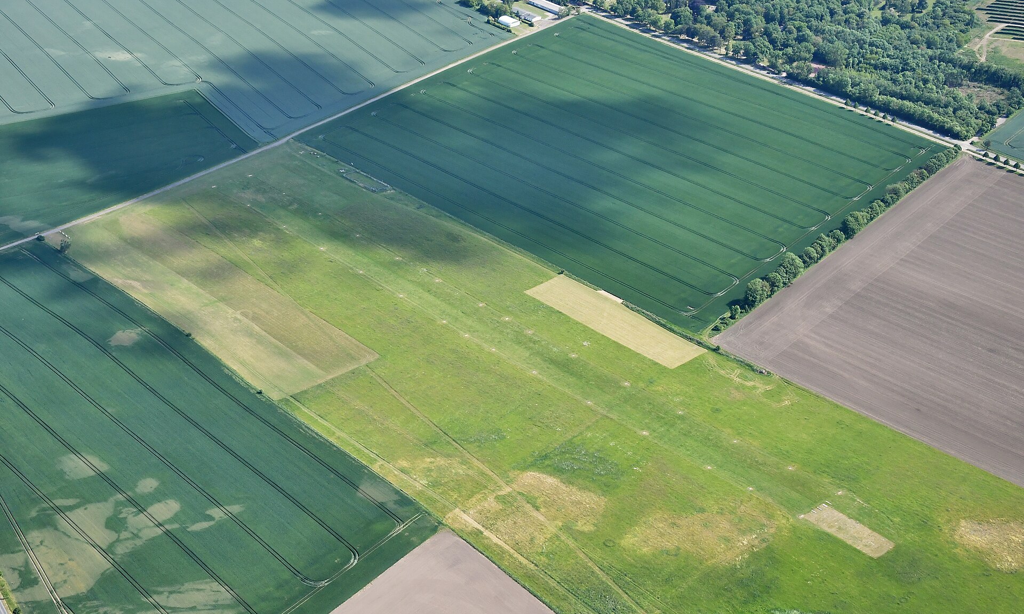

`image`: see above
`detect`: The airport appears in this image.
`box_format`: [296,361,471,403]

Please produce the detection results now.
[44,140,1024,614]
